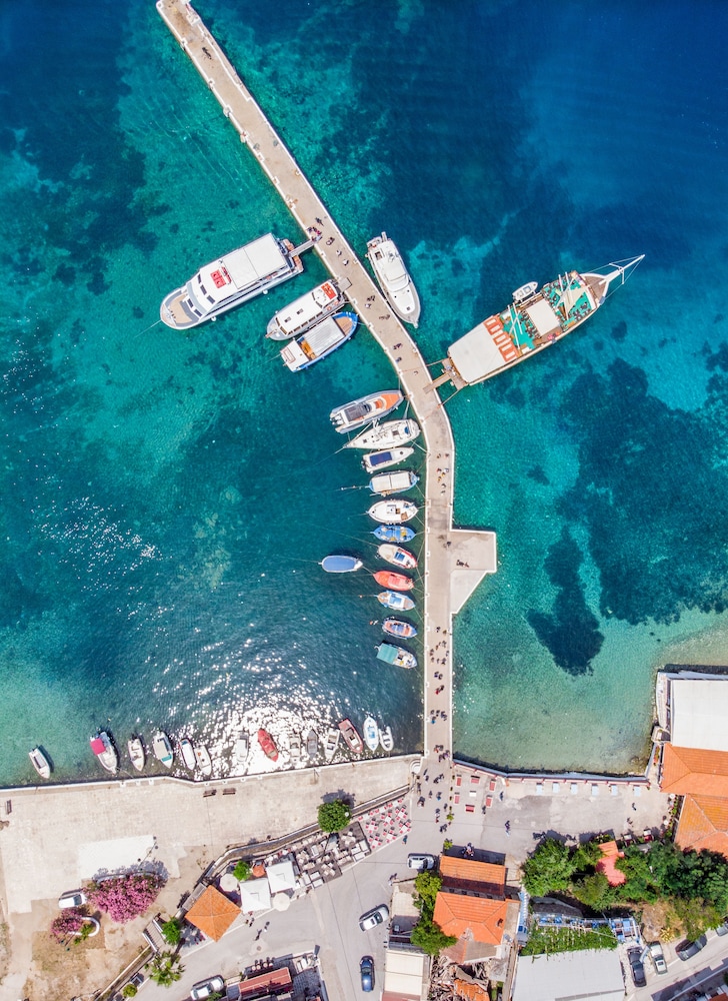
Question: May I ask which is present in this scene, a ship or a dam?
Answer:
ship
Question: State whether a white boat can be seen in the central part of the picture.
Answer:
Yes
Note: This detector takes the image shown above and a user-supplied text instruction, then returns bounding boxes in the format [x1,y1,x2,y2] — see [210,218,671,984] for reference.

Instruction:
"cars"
[359,958,376,996]
[188,977,225,1001]
[626,949,651,992]
[53,891,87,913]
[674,935,712,970]
[649,942,672,980]
[406,854,441,875]
[356,905,391,936]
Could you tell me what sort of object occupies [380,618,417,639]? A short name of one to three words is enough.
boat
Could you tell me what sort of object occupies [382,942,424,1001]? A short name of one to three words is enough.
house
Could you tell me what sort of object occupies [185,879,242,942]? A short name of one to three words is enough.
gazebo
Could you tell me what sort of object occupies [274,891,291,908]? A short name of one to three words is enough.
umbrella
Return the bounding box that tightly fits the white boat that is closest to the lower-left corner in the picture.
[27,748,51,779]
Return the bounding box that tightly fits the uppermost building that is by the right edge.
[651,663,728,751]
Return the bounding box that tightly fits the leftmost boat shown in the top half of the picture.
[158,234,304,325]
